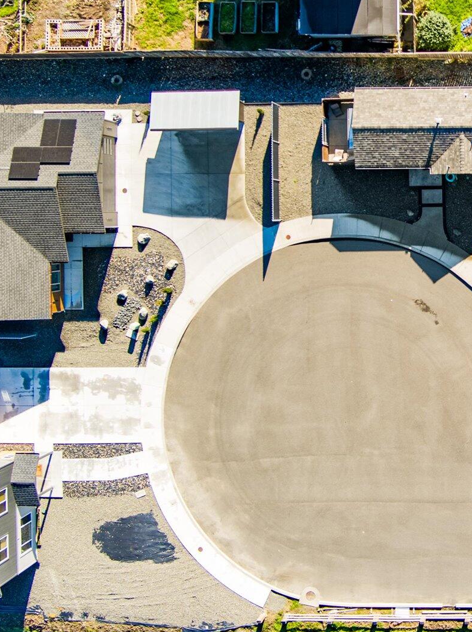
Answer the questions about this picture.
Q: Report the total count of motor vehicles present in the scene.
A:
0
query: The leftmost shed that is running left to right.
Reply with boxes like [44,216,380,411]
[149,89,251,134]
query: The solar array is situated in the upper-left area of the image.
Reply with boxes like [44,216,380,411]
[8,120,77,179]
